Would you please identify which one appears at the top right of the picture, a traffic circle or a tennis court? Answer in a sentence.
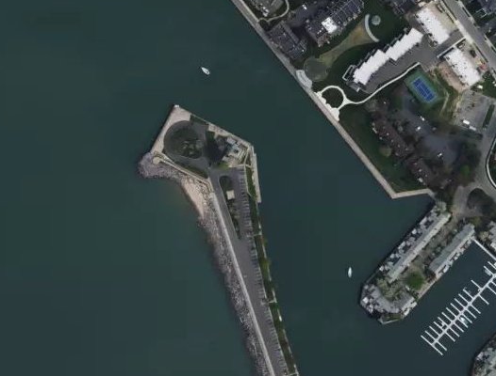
Visible at the top right of the picture is a tennis court.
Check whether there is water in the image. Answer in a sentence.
Yes, some water is visible.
